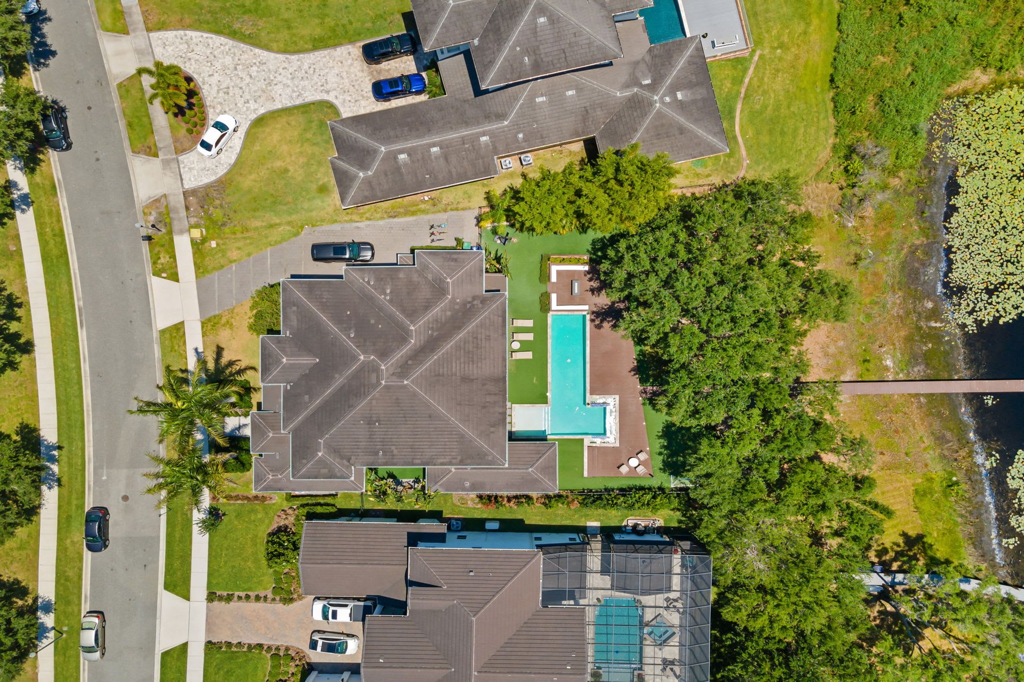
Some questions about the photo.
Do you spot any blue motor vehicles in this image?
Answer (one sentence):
Yes, you can see a blue motor vehicle in this photo.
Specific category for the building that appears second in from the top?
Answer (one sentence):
It turns out the building that appears second in from the top is a home.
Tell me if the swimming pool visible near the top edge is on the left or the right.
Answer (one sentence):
It is on the right.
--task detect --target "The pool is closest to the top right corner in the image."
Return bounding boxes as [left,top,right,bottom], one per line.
[643,0,695,44]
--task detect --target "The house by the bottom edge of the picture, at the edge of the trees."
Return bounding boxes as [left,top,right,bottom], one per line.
[298,515,682,682]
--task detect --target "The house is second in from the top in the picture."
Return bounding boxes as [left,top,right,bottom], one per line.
[250,249,559,494]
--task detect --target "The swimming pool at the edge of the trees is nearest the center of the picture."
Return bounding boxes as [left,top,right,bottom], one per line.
[512,312,619,477]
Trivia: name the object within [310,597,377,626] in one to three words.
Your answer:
truck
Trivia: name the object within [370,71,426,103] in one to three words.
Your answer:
car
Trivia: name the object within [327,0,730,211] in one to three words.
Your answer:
house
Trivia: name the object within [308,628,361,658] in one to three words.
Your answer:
car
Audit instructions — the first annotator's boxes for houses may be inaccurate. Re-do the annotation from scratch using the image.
[327,0,730,211]
[298,515,682,682]
[250,249,559,494]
